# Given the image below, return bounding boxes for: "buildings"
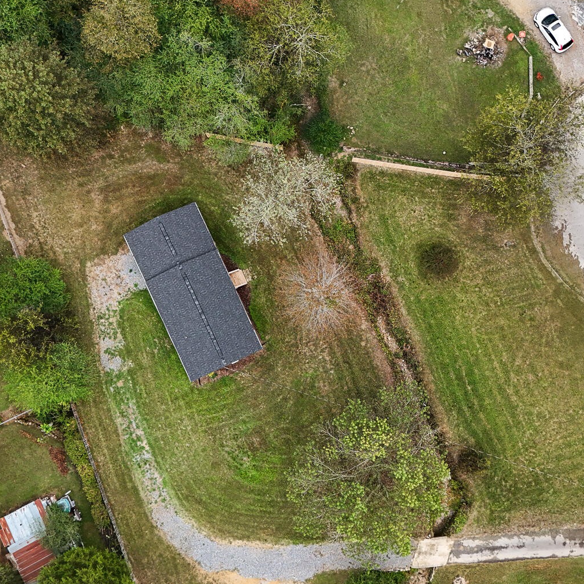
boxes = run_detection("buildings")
[123,202,268,386]
[0,499,59,584]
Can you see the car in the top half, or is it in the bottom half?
top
